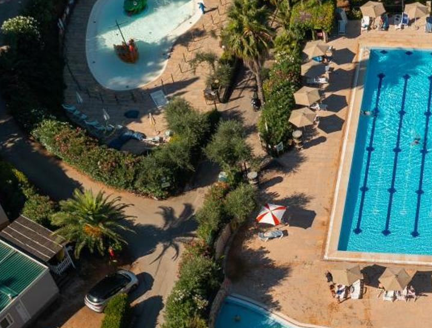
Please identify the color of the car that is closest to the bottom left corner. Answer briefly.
black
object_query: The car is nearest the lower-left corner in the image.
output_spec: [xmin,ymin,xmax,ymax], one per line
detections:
[85,268,138,313]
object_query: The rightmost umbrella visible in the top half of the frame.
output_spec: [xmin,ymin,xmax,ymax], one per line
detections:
[401,2,432,20]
